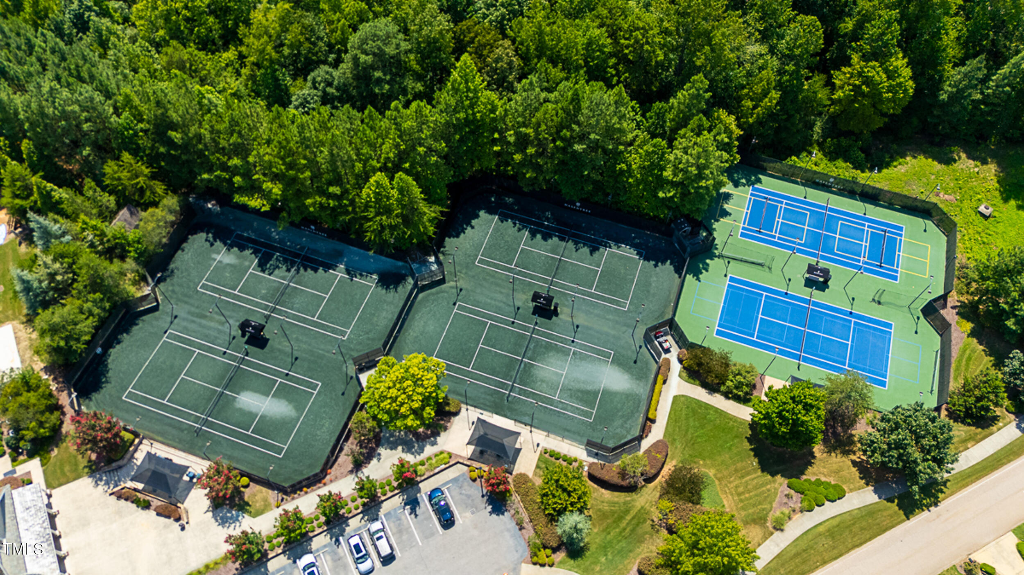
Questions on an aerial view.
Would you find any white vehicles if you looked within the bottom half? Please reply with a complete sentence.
Yes, you'll find a white vehicle within the bottom half.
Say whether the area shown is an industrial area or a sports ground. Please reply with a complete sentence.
It's a sports ground.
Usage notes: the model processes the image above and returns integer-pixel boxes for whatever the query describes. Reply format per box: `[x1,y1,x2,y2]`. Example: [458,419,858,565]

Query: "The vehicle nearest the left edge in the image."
[301,554,323,575]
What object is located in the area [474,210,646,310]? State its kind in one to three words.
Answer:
tennis court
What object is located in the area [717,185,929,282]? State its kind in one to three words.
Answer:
tennis court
